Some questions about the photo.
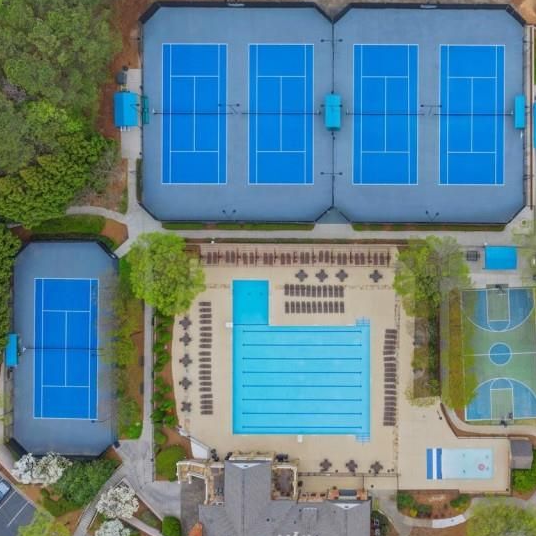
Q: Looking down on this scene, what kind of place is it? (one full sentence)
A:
This looks like a sports ground.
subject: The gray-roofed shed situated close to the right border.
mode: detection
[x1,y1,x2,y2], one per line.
[509,438,535,470]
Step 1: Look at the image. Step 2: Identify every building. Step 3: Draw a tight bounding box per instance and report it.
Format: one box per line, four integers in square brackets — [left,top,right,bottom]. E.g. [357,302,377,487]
[197,457,372,536]
[509,438,535,470]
